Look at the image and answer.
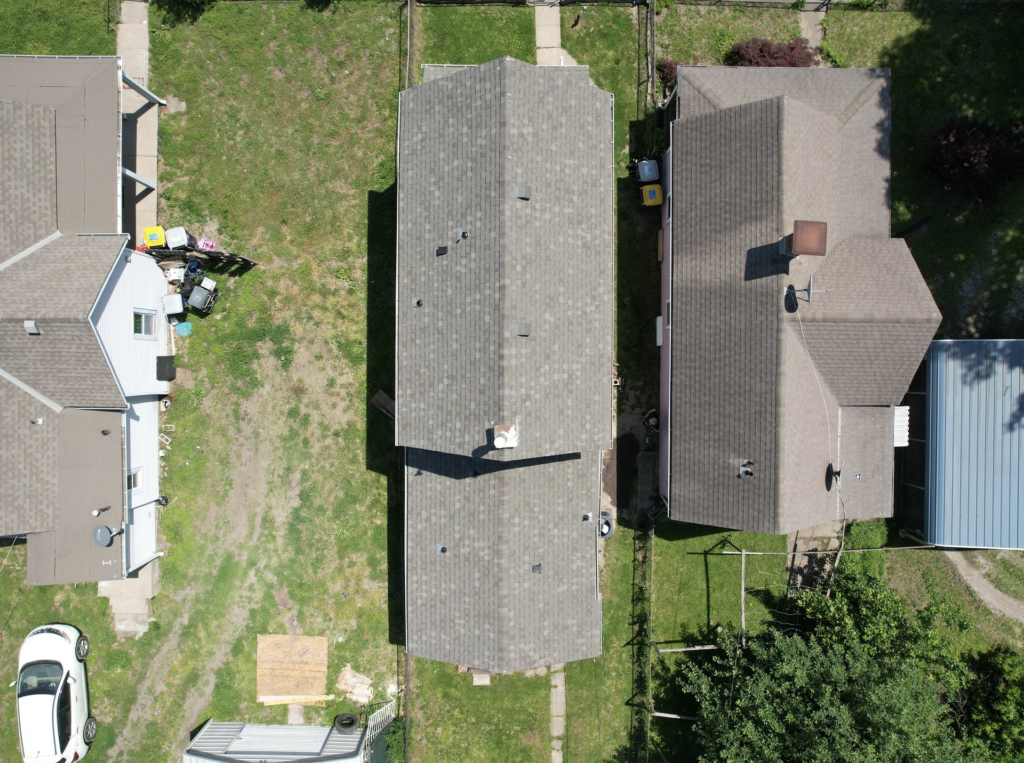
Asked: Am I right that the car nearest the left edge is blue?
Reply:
No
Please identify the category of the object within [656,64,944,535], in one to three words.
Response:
house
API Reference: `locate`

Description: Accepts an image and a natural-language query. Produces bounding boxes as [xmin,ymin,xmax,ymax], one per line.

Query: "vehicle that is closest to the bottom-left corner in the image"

[8,624,96,763]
